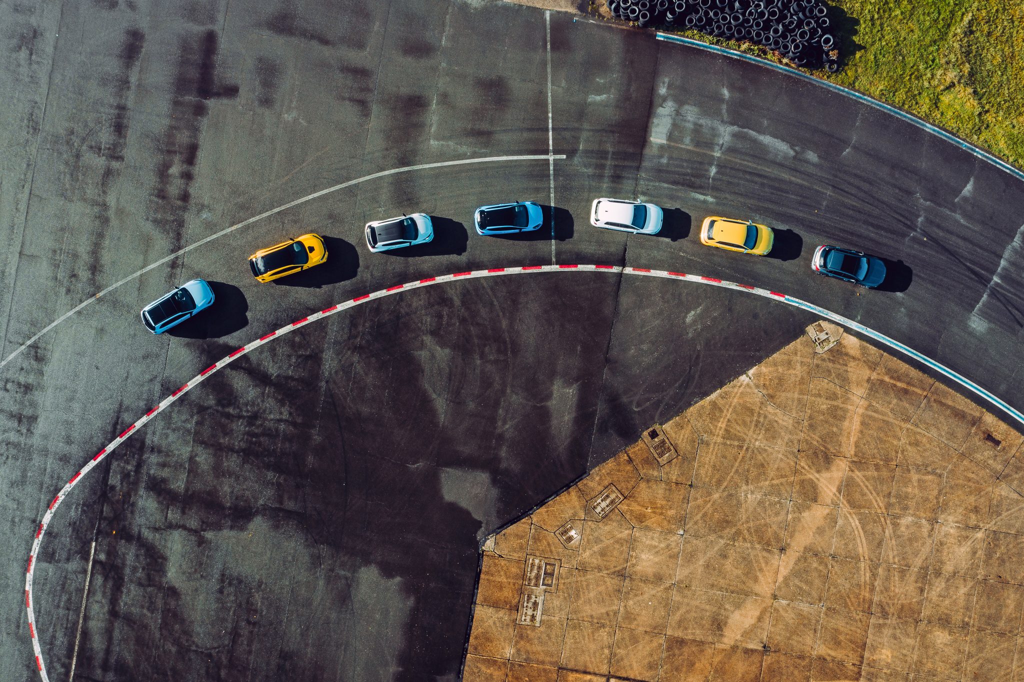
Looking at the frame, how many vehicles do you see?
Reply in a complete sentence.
In total, there are 7 vehicles in the scene.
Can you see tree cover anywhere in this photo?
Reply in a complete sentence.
No, tree cover can't be seen anywhere here.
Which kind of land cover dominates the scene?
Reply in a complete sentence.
The scene is dominated by paved ground.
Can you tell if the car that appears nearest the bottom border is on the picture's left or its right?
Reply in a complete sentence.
The car that appears nearest the bottom border sits on the left side.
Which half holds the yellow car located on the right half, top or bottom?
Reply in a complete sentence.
The yellow car located on the right half sits in the top half of the picture.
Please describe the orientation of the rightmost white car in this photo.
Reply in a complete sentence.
The rightmost white car has been laid out from side to side relative to the frame.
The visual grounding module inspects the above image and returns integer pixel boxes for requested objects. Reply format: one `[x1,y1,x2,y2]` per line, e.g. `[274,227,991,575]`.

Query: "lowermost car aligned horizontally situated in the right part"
[810,245,886,288]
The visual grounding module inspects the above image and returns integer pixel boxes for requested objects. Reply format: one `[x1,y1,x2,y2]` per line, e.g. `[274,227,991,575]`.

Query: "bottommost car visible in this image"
[141,278,216,334]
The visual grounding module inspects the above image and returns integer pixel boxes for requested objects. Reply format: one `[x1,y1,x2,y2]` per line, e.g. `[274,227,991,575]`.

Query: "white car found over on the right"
[590,198,663,236]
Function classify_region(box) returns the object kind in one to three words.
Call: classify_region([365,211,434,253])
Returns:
car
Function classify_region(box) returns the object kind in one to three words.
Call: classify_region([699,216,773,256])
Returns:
car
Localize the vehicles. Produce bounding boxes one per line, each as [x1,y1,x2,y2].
[590,198,663,236]
[810,245,886,288]
[699,216,773,256]
[249,234,328,283]
[365,211,434,253]
[474,198,543,237]
[141,278,216,334]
